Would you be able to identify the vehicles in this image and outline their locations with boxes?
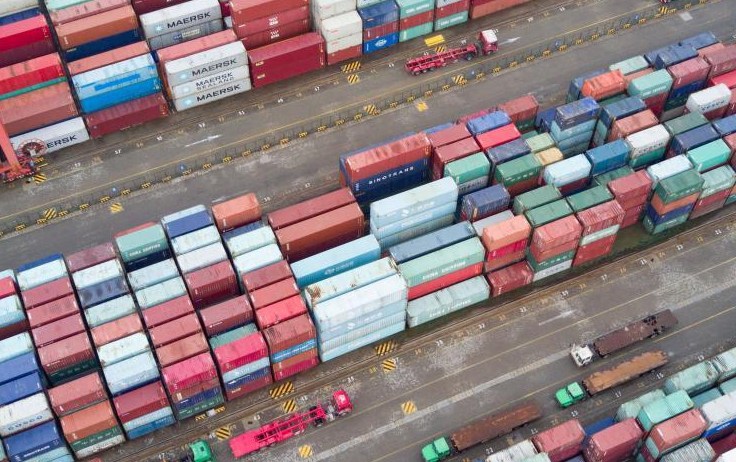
[550,348,671,413]
[180,440,214,462]
[417,401,542,462]
[405,31,502,78]
[229,389,356,458]
[563,309,680,371]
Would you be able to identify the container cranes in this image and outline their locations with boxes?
[0,106,47,178]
